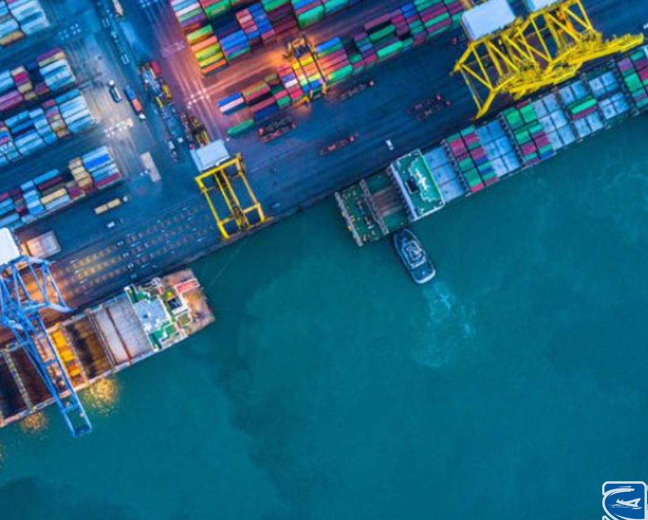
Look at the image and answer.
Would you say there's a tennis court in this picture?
No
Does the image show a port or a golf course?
port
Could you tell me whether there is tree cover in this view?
No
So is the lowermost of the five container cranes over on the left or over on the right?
left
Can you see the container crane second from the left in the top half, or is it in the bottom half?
top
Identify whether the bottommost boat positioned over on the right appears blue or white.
blue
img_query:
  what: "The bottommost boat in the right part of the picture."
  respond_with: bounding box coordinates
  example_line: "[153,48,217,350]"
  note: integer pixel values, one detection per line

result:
[397,230,435,286]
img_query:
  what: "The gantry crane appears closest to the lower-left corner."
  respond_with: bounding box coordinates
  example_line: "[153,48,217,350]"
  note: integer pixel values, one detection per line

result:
[0,226,97,444]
